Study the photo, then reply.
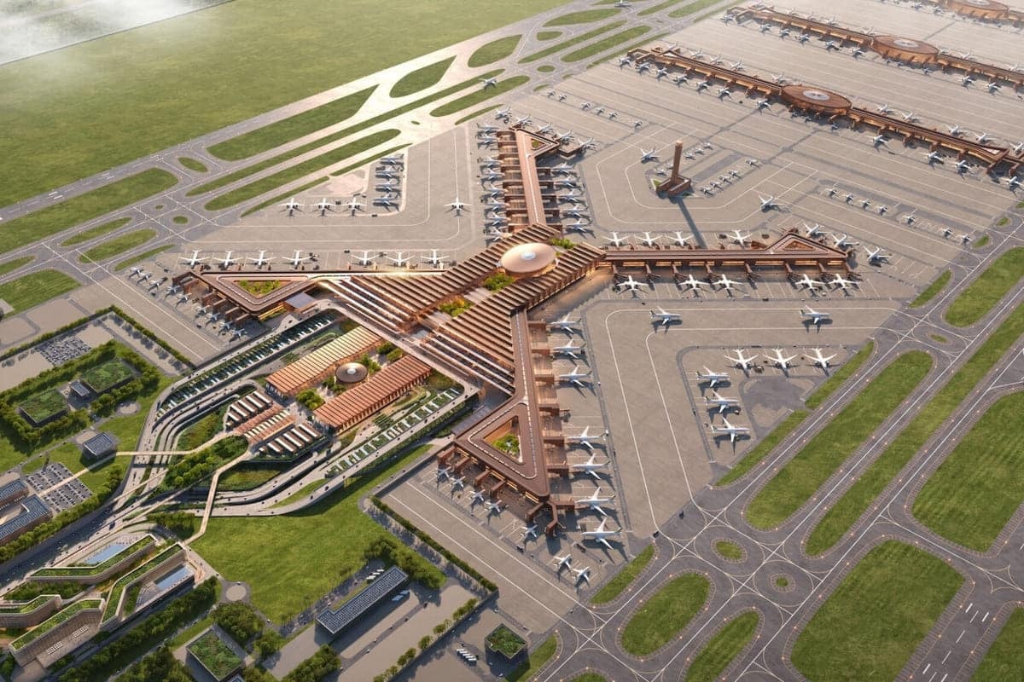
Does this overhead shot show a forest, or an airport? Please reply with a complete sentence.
This looks like an airport.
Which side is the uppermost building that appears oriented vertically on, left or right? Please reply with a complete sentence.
You can find the uppermost building that appears oriented vertically on the right side of the picture.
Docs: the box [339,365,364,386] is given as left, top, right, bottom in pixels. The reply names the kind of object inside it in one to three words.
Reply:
building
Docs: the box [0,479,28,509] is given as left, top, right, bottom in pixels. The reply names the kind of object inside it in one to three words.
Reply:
building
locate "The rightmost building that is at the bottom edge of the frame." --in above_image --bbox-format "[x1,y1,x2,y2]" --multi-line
[485,623,527,666]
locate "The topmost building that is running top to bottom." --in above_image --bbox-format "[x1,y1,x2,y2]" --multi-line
[655,134,691,202]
